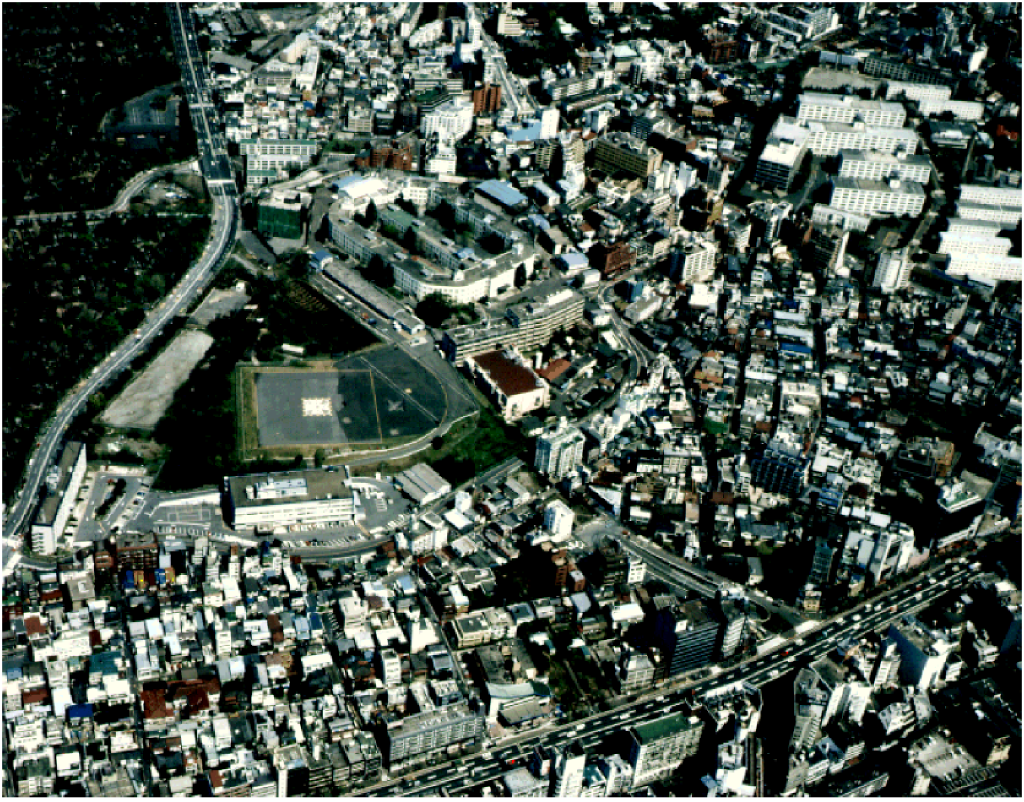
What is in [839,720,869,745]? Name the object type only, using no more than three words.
house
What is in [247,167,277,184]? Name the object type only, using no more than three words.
building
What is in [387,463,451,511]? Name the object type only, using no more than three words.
building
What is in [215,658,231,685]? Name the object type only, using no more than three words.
house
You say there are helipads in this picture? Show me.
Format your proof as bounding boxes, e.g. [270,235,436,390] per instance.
[299,396,335,417]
